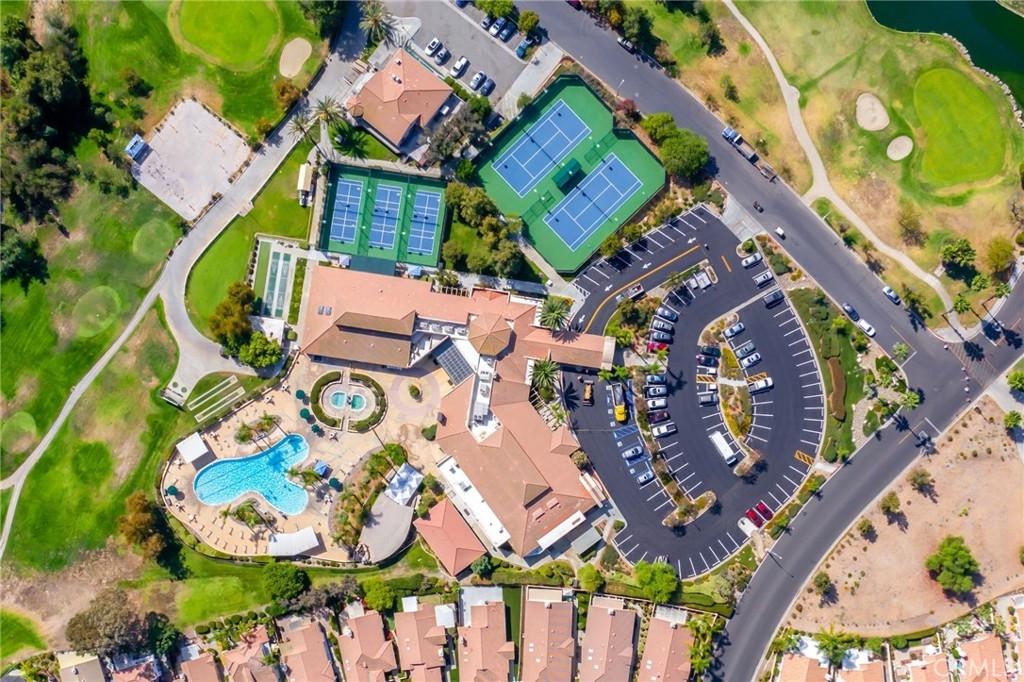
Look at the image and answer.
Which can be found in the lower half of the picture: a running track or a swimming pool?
swimming pool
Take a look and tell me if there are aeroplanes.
No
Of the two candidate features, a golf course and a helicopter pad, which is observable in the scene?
golf course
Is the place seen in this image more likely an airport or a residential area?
residential area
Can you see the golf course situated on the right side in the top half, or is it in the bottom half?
top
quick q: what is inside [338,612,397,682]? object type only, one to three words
house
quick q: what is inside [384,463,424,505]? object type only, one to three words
tent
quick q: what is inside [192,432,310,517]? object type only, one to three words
swimming pool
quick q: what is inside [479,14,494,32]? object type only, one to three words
car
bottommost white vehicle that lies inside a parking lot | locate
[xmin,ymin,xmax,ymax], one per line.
[737,516,758,537]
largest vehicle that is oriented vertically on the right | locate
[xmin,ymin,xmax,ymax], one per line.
[612,382,625,421]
